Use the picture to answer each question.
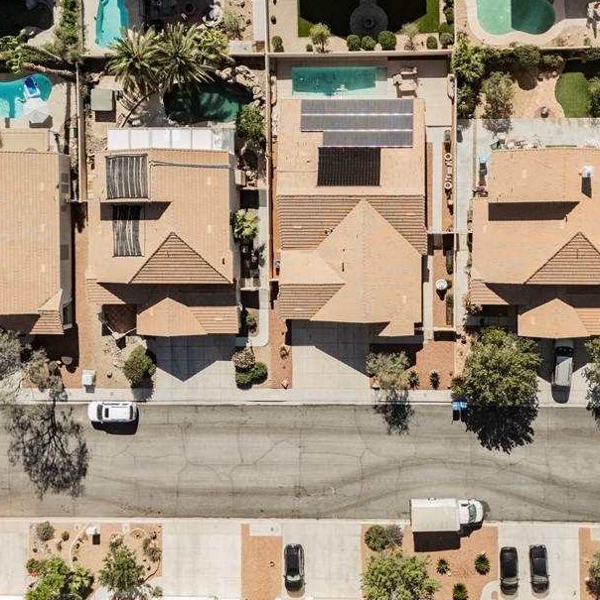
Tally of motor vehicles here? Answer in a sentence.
In total, there are 6 motor vehicles in the scene.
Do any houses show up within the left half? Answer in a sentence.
Yes, there is a house within the left half.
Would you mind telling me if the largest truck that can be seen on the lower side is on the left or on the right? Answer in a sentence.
You can find the largest truck that can be seen on the lower side on the right side of the picture.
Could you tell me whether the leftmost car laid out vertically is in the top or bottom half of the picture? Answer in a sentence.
The bottom half of the photo is where the leftmost car laid out vertically is.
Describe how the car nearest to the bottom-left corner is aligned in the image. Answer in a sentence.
The car nearest to the bottom-left corner is oriented from left to right.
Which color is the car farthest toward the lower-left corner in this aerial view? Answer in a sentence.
The car farthest toward the lower-left corner looks white in the image.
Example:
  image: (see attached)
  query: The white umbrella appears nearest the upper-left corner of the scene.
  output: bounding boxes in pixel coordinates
[24,98,49,122]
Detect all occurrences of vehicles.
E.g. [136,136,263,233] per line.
[409,498,482,531]
[89,401,139,424]
[283,542,305,589]
[497,544,520,593]
[527,543,551,592]
[551,338,575,386]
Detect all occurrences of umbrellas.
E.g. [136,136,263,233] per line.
[393,75,403,86]
[24,98,49,122]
